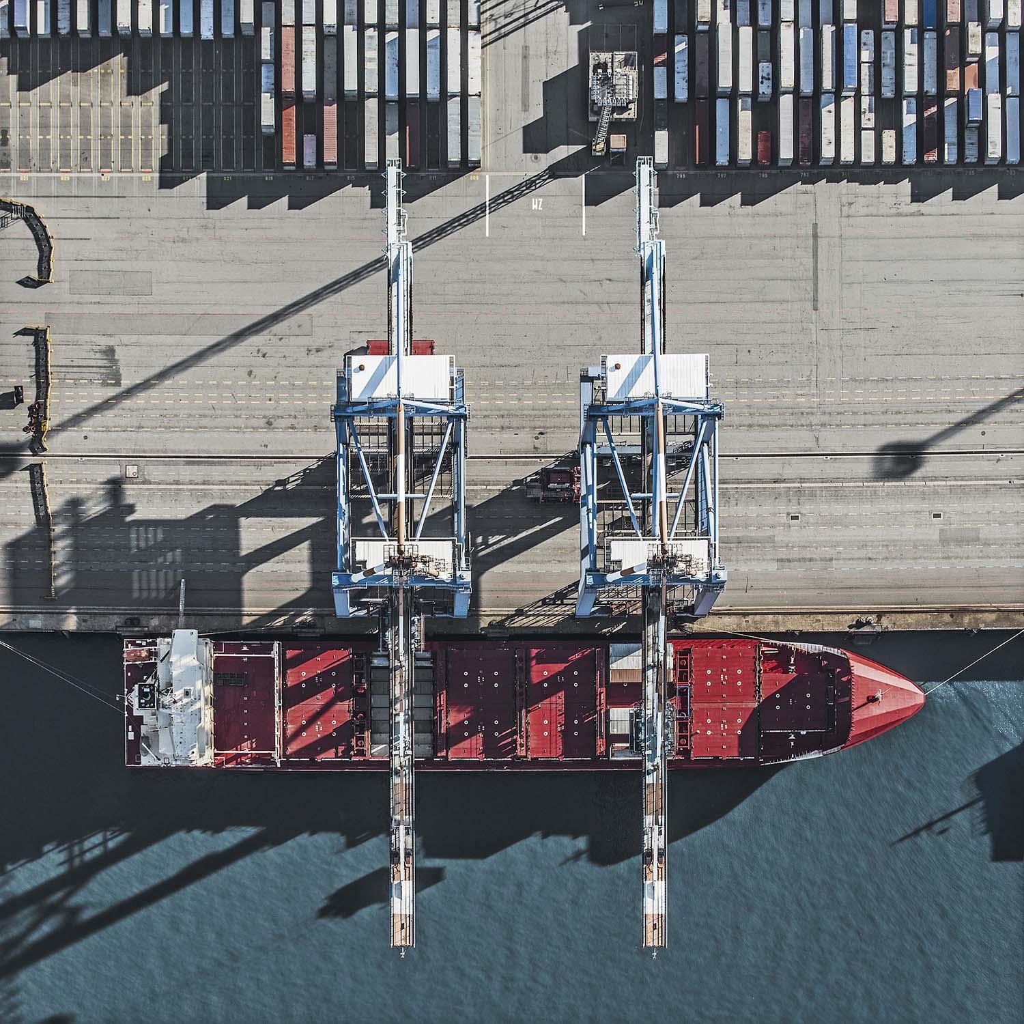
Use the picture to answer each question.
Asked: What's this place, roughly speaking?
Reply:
port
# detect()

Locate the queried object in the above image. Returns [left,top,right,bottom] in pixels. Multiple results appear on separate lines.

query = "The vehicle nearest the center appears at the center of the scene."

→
[524,466,576,507]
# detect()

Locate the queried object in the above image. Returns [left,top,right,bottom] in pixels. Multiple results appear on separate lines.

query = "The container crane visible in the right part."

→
[575,159,732,958]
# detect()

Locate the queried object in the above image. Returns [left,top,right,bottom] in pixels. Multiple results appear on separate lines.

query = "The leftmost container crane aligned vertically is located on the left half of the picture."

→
[327,159,479,959]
